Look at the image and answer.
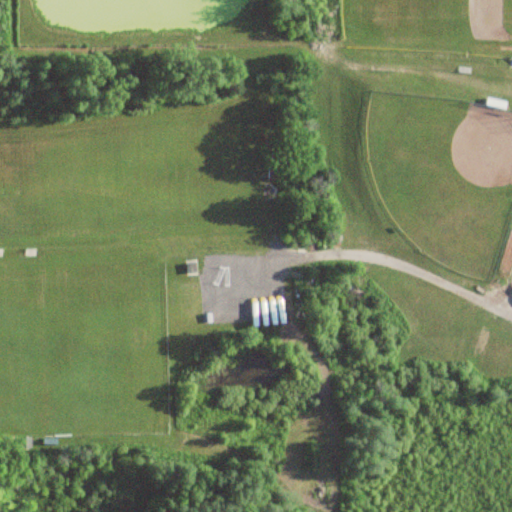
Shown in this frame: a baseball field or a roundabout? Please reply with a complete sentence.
Looking from above, you can make out a baseball field.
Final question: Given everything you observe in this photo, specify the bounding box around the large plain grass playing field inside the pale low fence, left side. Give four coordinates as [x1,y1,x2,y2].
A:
[0,246,168,436]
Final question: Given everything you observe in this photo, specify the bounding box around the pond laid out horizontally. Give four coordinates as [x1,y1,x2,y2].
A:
[34,0,243,34]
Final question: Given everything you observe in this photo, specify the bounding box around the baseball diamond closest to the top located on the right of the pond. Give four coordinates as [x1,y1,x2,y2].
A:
[344,0,512,60]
